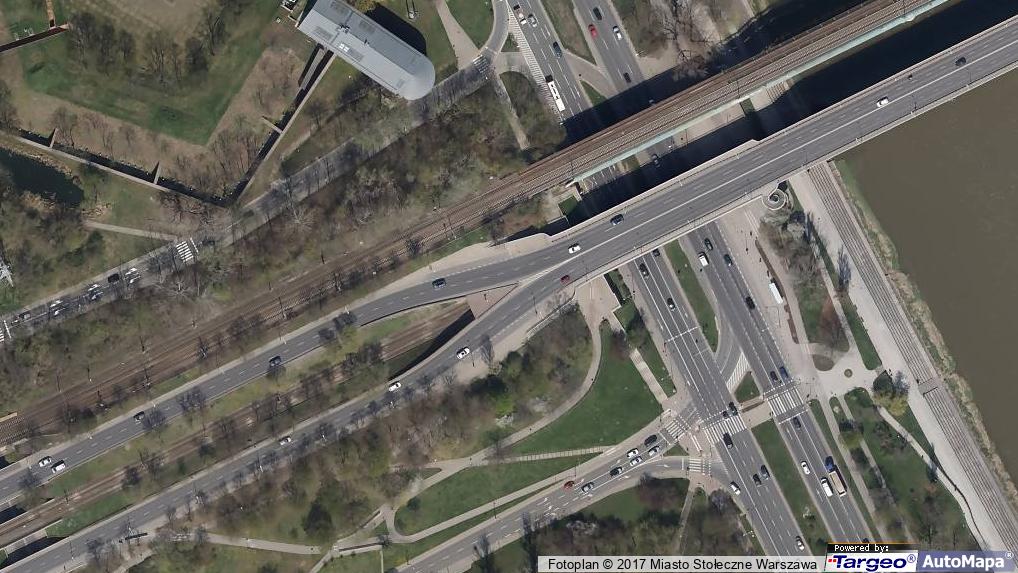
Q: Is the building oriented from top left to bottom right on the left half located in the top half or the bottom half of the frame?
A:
top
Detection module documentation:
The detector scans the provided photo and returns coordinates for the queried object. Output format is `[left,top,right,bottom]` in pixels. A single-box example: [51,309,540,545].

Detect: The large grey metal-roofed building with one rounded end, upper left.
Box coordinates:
[297,0,430,97]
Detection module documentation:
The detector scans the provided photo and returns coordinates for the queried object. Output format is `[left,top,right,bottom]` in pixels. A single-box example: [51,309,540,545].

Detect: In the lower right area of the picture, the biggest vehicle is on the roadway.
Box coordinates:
[826,464,847,496]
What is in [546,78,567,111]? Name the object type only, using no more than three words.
bus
